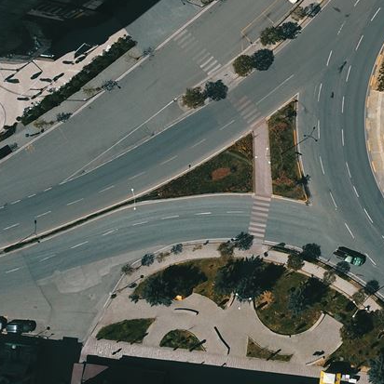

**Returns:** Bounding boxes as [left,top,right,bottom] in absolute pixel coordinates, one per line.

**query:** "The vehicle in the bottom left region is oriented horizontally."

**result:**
[4,321,34,335]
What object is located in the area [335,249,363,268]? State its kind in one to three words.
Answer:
car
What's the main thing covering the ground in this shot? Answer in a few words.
paved ground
